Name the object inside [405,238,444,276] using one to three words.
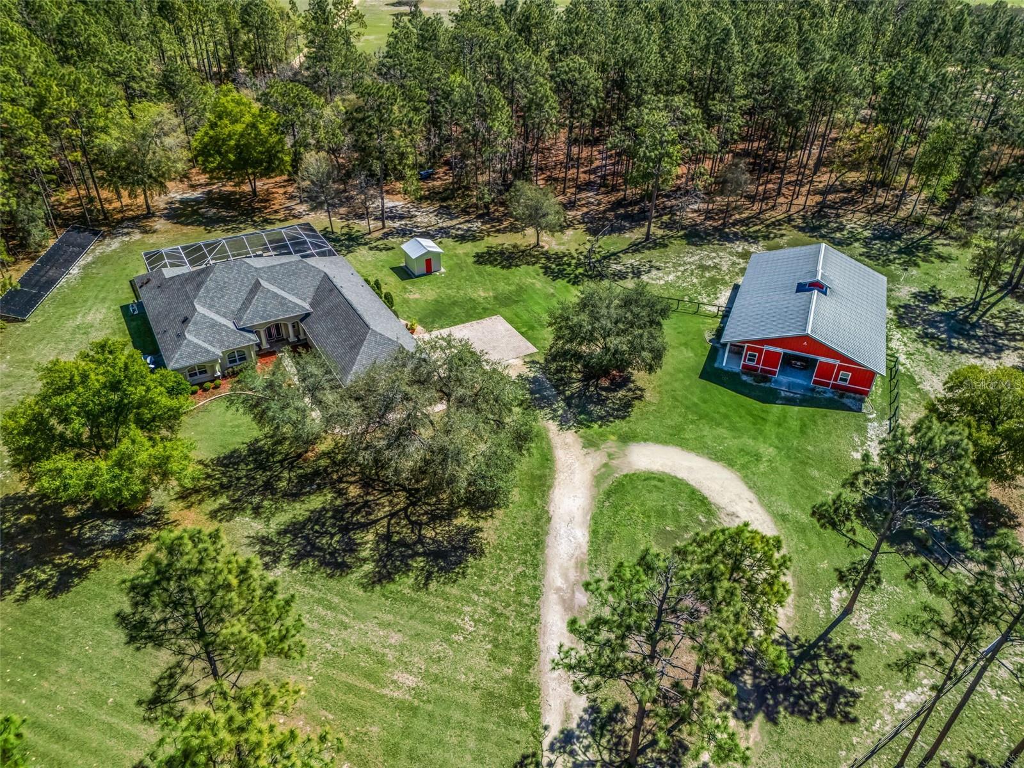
shed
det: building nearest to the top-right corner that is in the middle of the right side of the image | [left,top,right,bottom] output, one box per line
[720,244,887,396]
